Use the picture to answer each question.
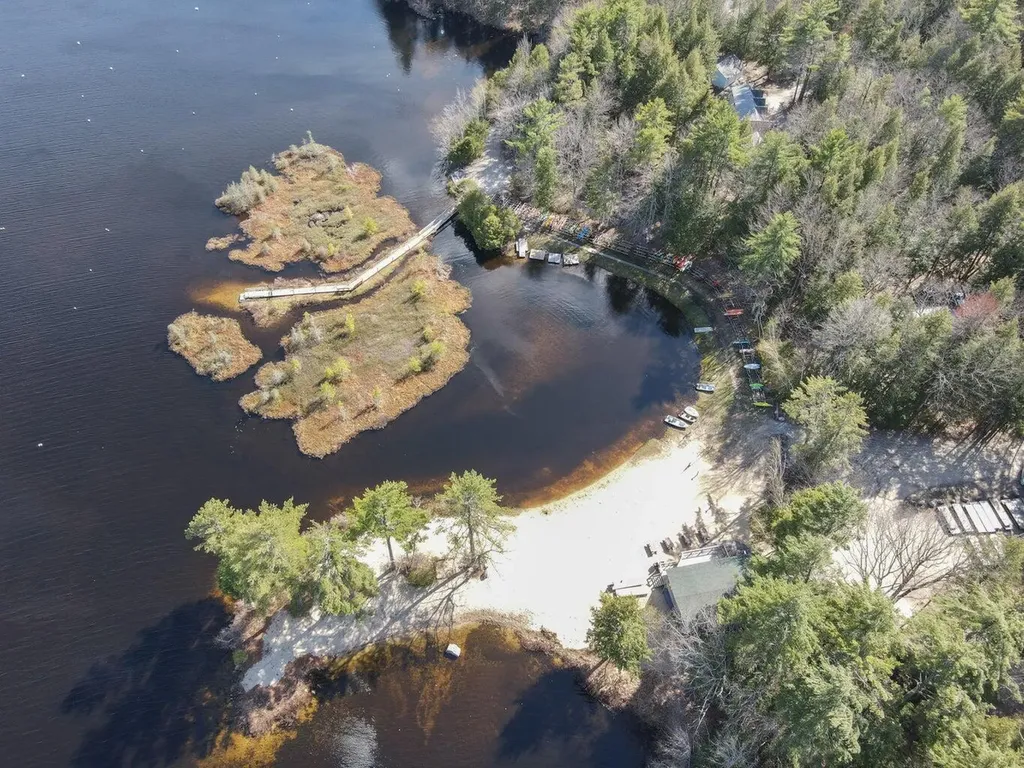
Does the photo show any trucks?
No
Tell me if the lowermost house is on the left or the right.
right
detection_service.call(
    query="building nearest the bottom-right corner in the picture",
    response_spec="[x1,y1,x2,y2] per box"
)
[642,542,761,625]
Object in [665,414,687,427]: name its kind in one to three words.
boat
